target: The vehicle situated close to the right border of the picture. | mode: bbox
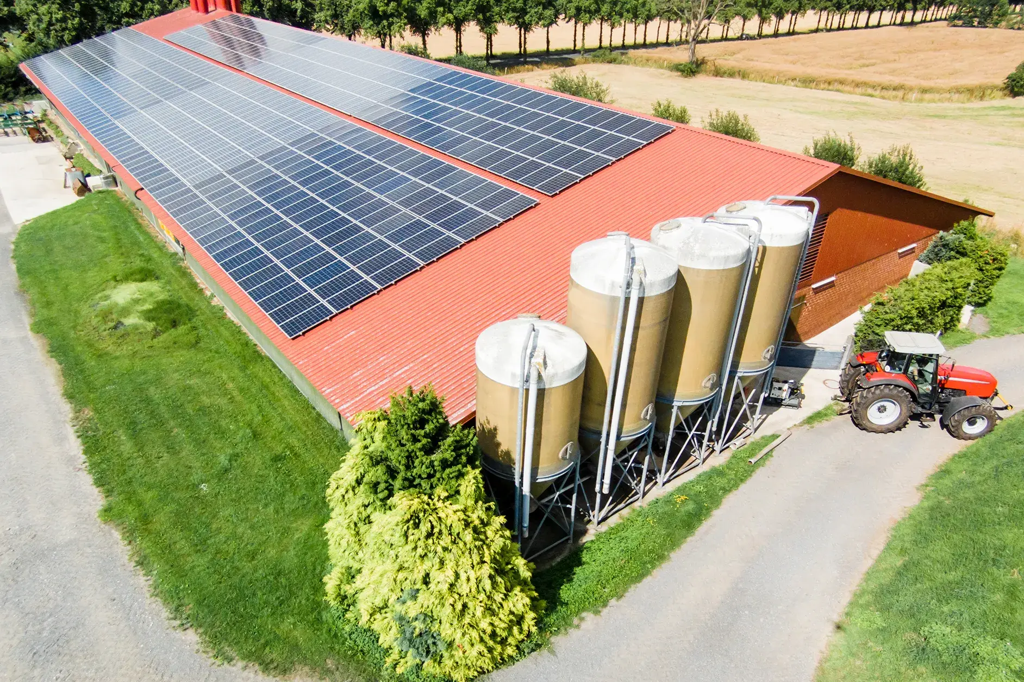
[823,331,1012,441]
